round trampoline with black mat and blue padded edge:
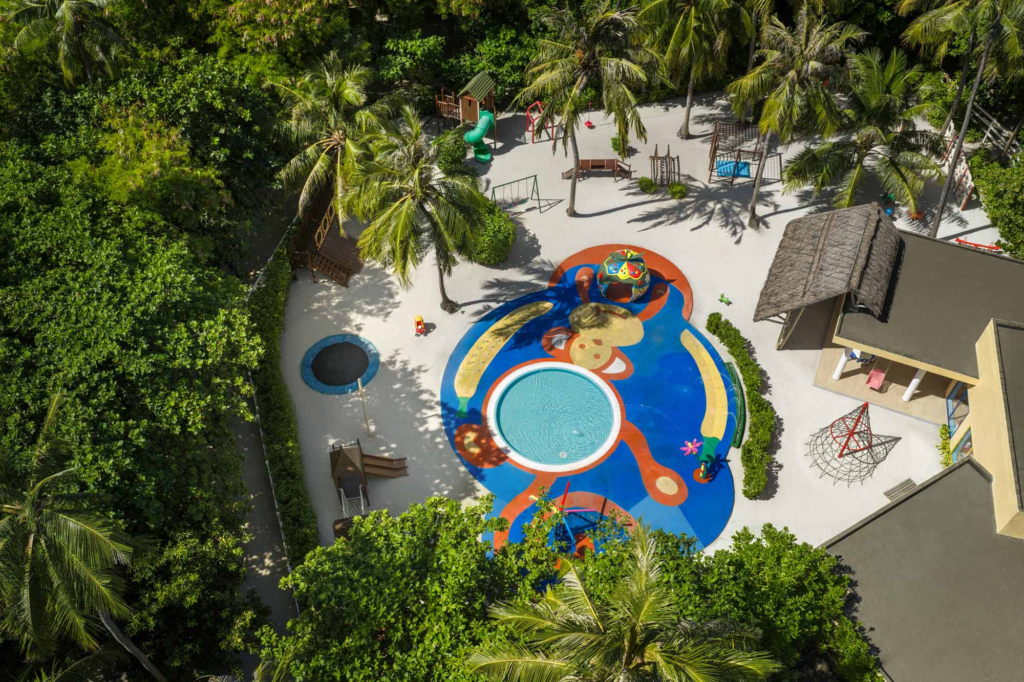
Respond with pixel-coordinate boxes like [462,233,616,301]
[301,334,379,398]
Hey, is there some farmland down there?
No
